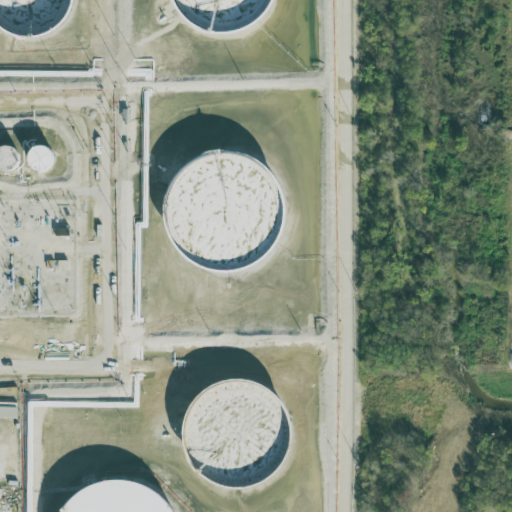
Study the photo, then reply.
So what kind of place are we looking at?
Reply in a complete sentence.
The area seen from above is an industrial area.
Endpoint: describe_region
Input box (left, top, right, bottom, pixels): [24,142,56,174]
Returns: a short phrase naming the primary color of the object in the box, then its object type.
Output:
white storage tank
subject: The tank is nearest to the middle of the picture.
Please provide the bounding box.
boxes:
[165,150,284,270]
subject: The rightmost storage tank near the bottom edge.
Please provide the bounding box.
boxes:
[182,380,292,490]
